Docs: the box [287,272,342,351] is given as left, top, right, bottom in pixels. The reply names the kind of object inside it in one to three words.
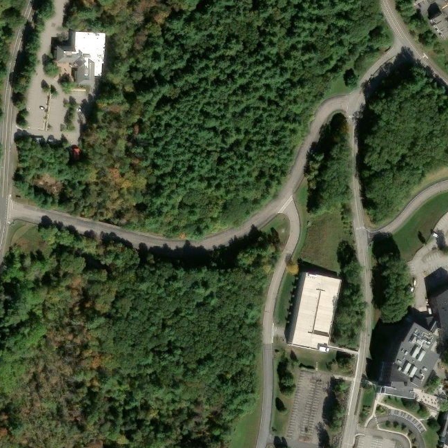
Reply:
building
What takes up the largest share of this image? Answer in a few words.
trees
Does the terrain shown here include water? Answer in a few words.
No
